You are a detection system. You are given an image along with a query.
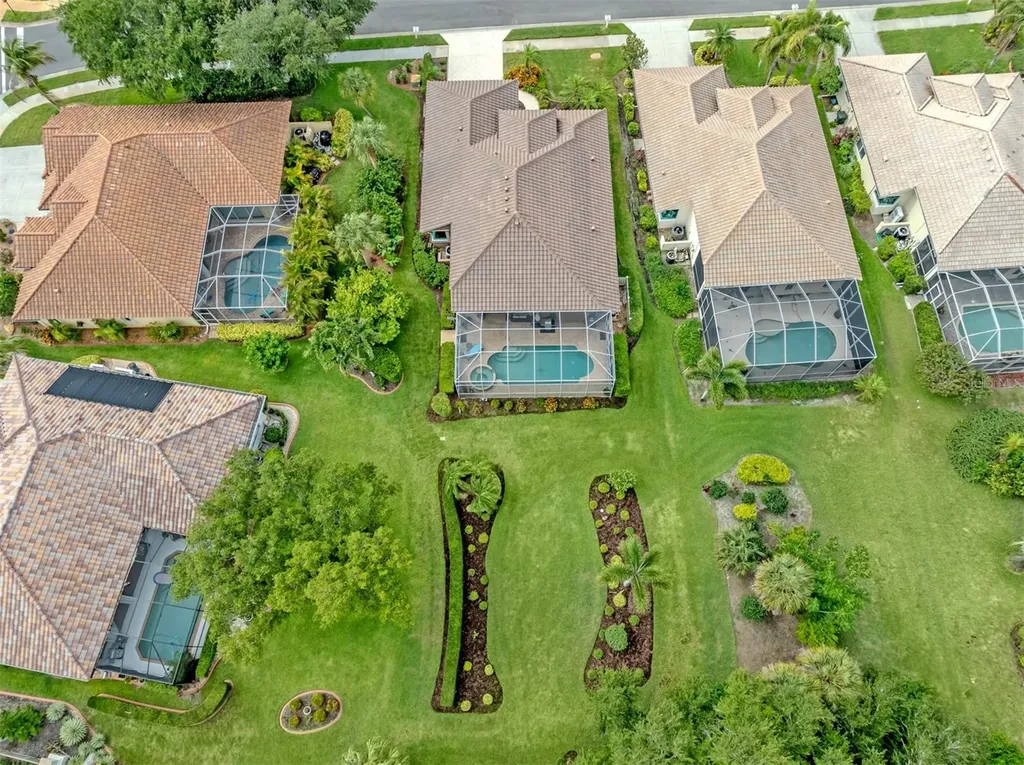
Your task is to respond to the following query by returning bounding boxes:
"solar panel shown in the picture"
[44,366,173,412]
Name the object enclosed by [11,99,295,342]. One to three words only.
house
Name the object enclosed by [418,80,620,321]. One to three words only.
house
